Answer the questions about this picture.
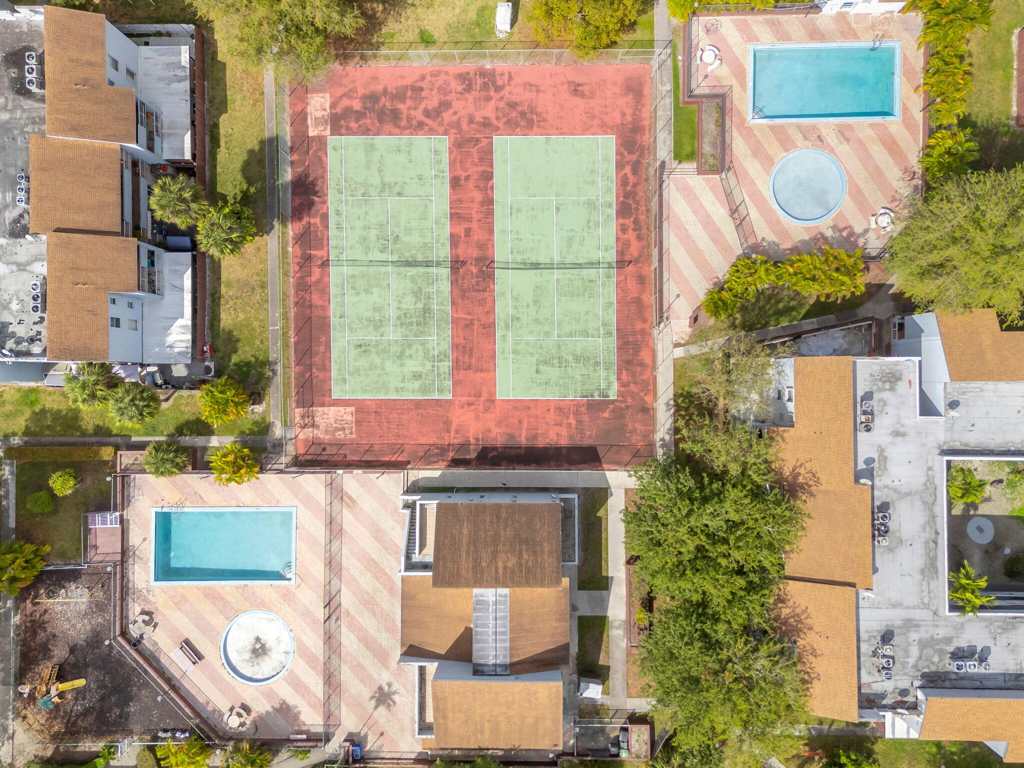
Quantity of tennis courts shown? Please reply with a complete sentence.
Only 1 tennis court is visible.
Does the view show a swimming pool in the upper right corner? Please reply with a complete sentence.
Yes, you'll find a swimming pool in the upper right corner.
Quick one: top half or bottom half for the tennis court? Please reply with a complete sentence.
The top half of the photo is where the tennis court is.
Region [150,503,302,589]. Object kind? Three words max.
swimming pool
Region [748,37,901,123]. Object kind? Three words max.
swimming pool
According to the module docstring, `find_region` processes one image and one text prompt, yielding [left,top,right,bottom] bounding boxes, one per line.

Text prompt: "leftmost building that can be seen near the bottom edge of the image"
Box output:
[396,487,569,750]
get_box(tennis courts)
[288,64,653,468]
